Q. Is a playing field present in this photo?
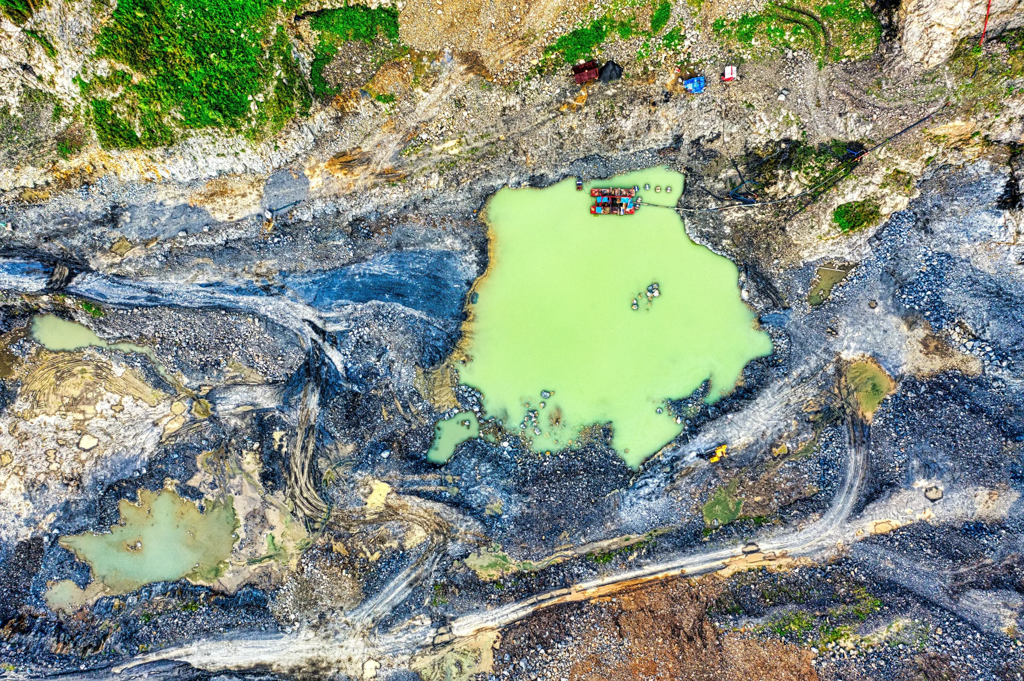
No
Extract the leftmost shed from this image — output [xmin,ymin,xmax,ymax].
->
[571,61,601,89]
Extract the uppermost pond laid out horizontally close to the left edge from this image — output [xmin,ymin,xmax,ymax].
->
[32,316,170,379]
